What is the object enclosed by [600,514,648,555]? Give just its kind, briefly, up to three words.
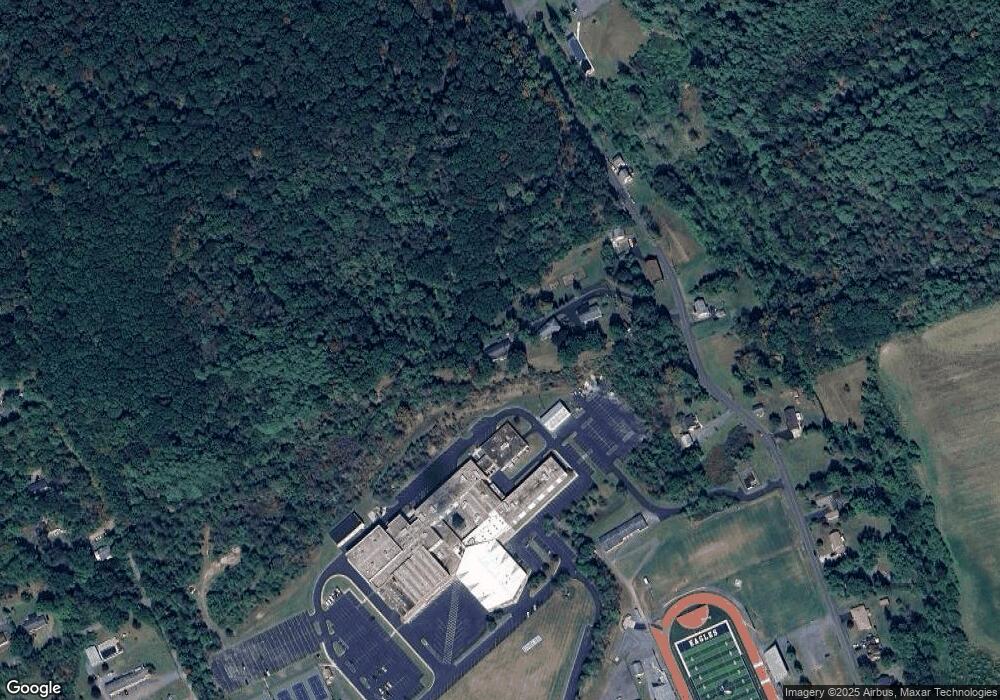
shed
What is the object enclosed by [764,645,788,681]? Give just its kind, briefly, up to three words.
building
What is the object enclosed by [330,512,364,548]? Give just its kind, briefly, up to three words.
shed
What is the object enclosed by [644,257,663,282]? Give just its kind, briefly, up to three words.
house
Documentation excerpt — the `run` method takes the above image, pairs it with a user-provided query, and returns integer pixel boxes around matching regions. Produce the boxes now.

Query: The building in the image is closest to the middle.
[484,338,511,362]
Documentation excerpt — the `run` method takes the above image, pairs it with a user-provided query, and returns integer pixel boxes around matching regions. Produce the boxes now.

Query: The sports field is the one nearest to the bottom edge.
[669,603,767,700]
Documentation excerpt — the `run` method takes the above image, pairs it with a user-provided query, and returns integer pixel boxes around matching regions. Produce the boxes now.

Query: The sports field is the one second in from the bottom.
[717,543,826,639]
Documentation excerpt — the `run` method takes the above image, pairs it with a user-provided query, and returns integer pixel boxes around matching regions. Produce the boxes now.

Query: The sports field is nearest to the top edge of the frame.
[636,491,798,590]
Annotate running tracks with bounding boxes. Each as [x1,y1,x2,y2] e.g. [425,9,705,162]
[657,592,779,700]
